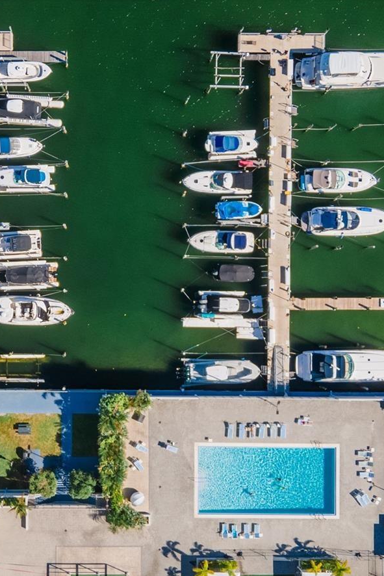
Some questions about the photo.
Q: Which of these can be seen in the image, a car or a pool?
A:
pool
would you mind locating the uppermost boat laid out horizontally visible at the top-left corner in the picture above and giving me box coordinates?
[0,62,52,83]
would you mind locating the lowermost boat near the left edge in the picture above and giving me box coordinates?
[0,296,76,326]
